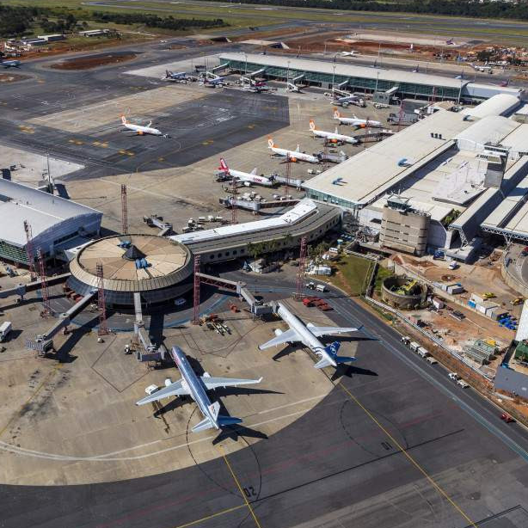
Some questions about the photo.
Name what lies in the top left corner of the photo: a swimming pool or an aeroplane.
aeroplane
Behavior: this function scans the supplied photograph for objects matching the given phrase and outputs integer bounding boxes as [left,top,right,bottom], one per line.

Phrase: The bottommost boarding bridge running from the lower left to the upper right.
[27,293,93,362]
